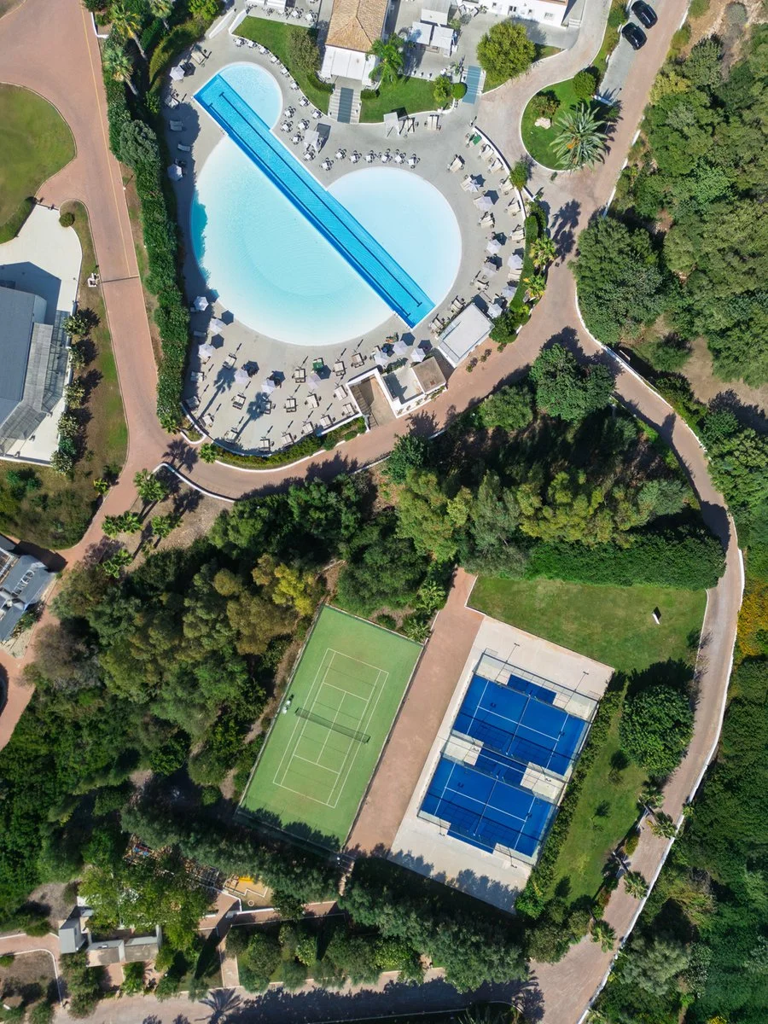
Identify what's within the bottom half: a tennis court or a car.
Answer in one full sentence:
What appears within the bottom half is a tennis court.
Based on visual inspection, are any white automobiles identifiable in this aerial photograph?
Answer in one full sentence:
No, there isn't any white automobile down there.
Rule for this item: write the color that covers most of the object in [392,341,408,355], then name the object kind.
white umbrella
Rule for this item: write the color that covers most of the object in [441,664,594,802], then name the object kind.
blue sports court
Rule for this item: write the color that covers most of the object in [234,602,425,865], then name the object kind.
green tennis court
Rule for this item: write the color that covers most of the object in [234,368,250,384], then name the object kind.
white umbrella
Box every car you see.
[621,23,646,52]
[631,1,656,30]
